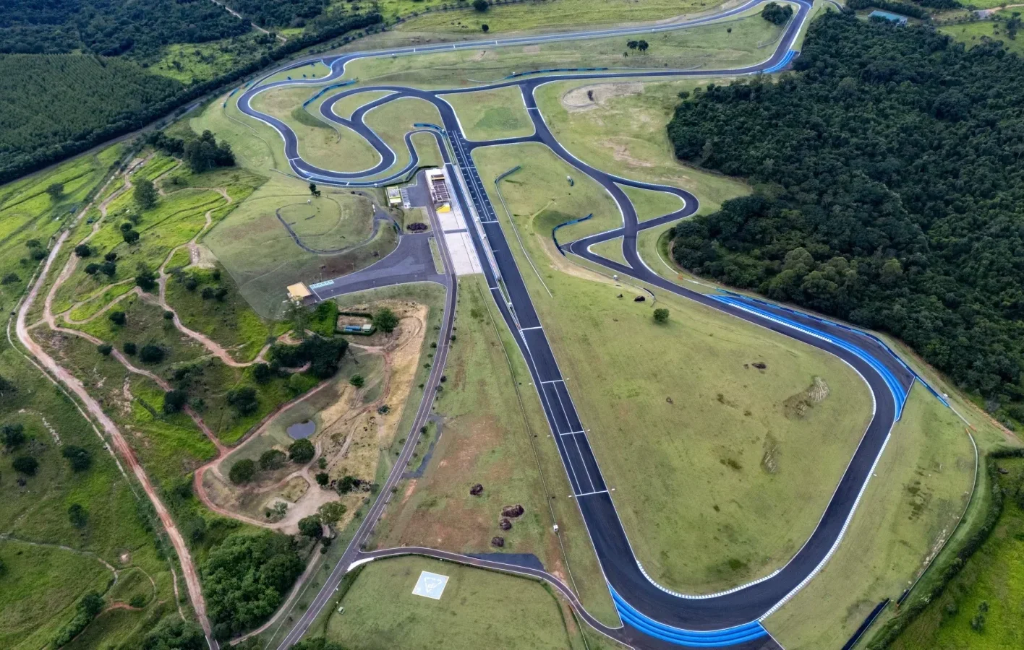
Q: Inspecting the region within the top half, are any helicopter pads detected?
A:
No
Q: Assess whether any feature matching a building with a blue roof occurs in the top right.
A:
Yes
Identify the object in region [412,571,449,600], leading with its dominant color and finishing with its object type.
white helipad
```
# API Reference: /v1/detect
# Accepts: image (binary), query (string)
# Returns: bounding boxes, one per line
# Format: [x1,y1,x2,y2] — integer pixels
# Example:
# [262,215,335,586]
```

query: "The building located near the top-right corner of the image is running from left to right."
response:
[867,11,906,27]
